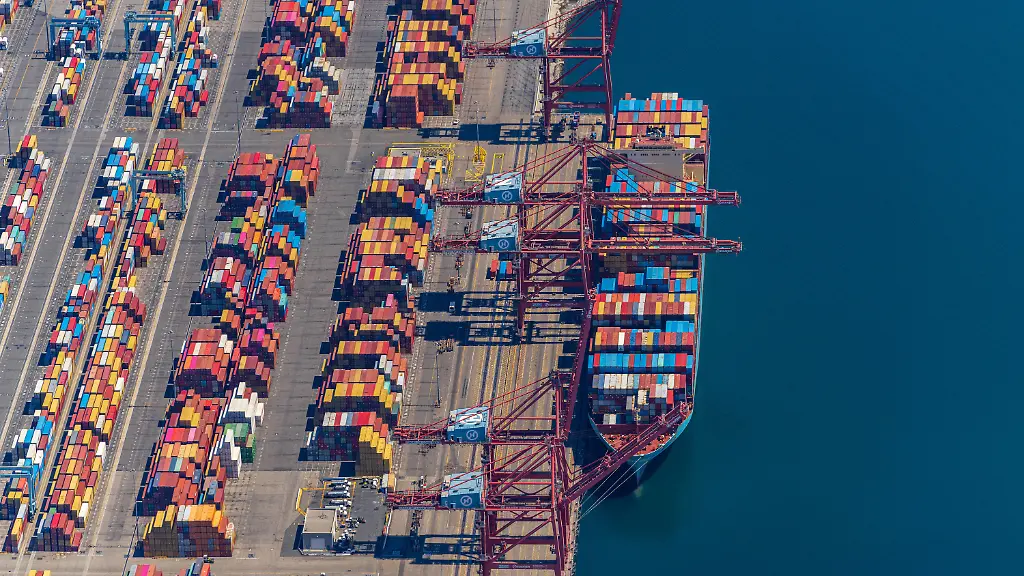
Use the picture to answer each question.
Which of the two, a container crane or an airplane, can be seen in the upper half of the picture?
container crane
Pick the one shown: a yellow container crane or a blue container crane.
blue container crane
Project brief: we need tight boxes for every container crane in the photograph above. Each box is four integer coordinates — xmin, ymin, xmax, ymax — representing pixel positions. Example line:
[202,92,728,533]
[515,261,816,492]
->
[465,0,621,153]
[386,401,693,576]
[130,166,190,220]
[431,180,740,355]
[435,133,741,316]
[393,282,595,572]
[45,11,103,61]
[0,463,39,521]
[123,10,179,60]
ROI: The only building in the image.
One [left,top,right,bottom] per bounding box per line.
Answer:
[302,507,340,551]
